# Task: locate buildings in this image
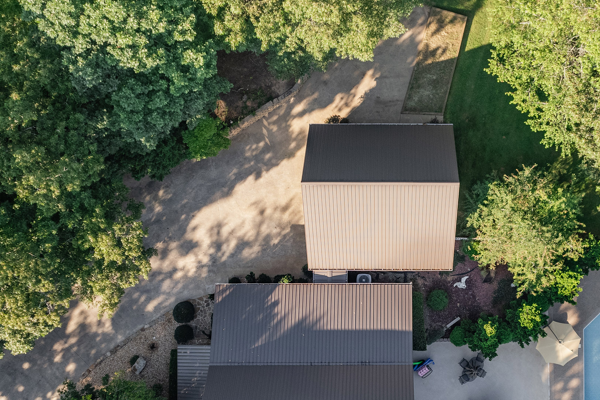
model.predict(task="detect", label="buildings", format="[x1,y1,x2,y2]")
[301,122,460,272]
[178,280,415,400]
